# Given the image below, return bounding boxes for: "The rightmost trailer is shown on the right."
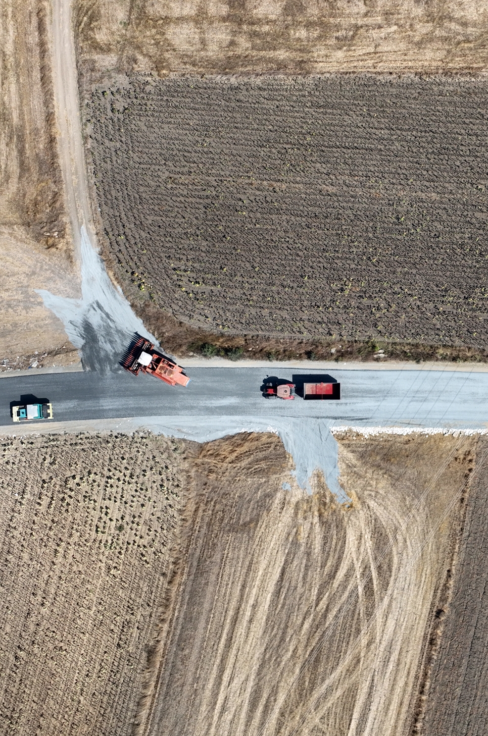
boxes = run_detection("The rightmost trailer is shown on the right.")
[296,382,340,402]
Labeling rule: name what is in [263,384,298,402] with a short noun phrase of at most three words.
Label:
work vehicle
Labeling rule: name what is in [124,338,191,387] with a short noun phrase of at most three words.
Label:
work vehicle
